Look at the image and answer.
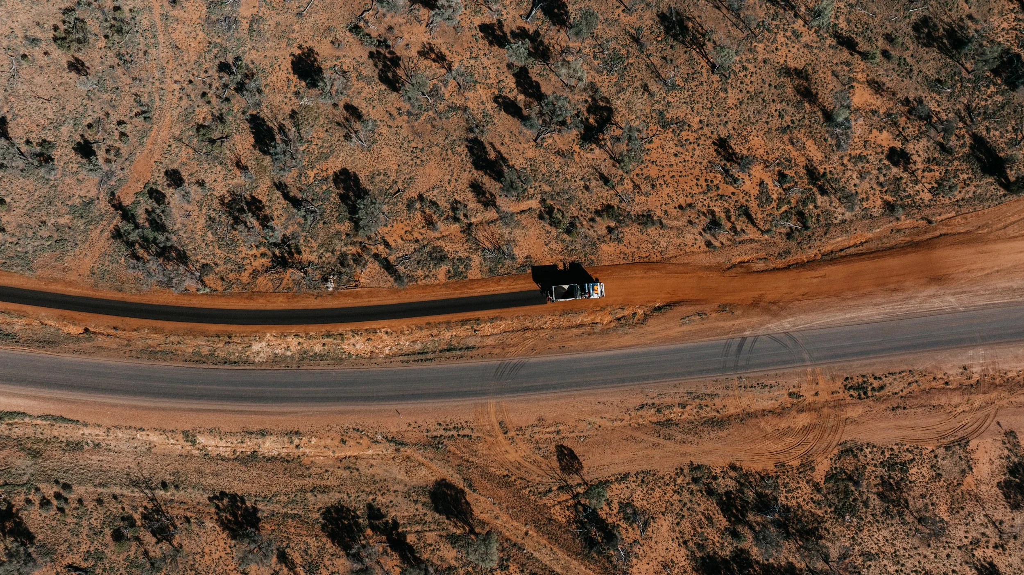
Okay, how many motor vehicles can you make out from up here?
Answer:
one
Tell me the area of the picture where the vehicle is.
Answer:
center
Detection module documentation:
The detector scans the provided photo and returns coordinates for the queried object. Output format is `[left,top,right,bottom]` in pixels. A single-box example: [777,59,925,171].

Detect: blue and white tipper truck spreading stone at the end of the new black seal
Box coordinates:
[544,282,606,302]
